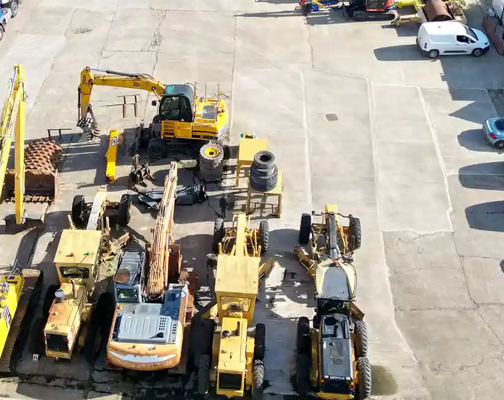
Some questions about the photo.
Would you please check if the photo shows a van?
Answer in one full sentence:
Yes, the picture does show a van.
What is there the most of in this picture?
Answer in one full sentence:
Most of the picture is covered by paved ground.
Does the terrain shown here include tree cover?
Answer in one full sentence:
No, the scene doesn't show any tree cover.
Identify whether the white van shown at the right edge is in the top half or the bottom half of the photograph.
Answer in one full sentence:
The top half of the photo is where the white van shown at the right edge is.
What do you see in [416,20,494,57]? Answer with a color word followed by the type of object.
white van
